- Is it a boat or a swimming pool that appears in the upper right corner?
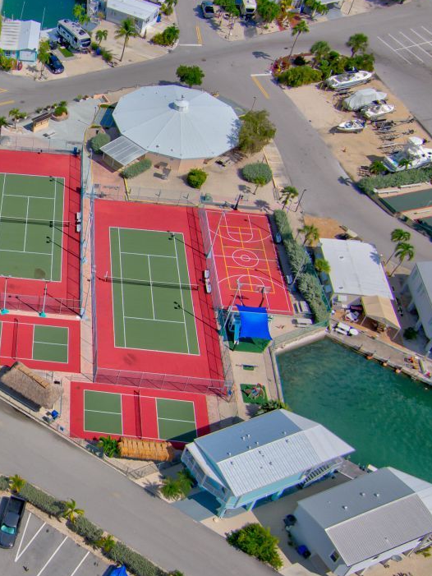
boat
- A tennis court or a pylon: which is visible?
tennis court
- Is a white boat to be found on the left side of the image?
No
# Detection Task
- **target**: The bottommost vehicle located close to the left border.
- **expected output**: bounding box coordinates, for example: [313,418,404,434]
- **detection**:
[0,493,27,548]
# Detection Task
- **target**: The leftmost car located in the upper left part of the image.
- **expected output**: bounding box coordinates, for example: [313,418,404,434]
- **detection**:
[47,53,63,72]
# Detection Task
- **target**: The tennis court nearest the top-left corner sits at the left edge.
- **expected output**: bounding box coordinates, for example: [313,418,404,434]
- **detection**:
[0,149,81,314]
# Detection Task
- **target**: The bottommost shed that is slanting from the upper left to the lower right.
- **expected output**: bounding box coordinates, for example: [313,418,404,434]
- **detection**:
[0,359,66,414]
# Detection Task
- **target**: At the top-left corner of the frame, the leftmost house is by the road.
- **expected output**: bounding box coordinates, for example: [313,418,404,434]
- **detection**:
[0,18,40,68]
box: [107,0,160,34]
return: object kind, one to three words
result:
house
